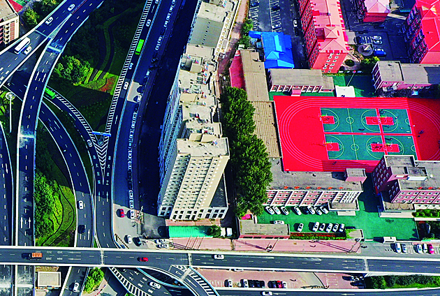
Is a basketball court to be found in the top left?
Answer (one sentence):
No, I can find no basketball court in the top left.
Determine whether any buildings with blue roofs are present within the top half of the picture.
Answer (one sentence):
Yes, a building with a blue roof shows up within the top half of the picture.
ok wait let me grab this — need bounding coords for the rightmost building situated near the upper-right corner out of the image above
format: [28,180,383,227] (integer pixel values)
[405,0,440,64]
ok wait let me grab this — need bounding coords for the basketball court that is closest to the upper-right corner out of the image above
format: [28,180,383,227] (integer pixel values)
[379,108,412,133]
